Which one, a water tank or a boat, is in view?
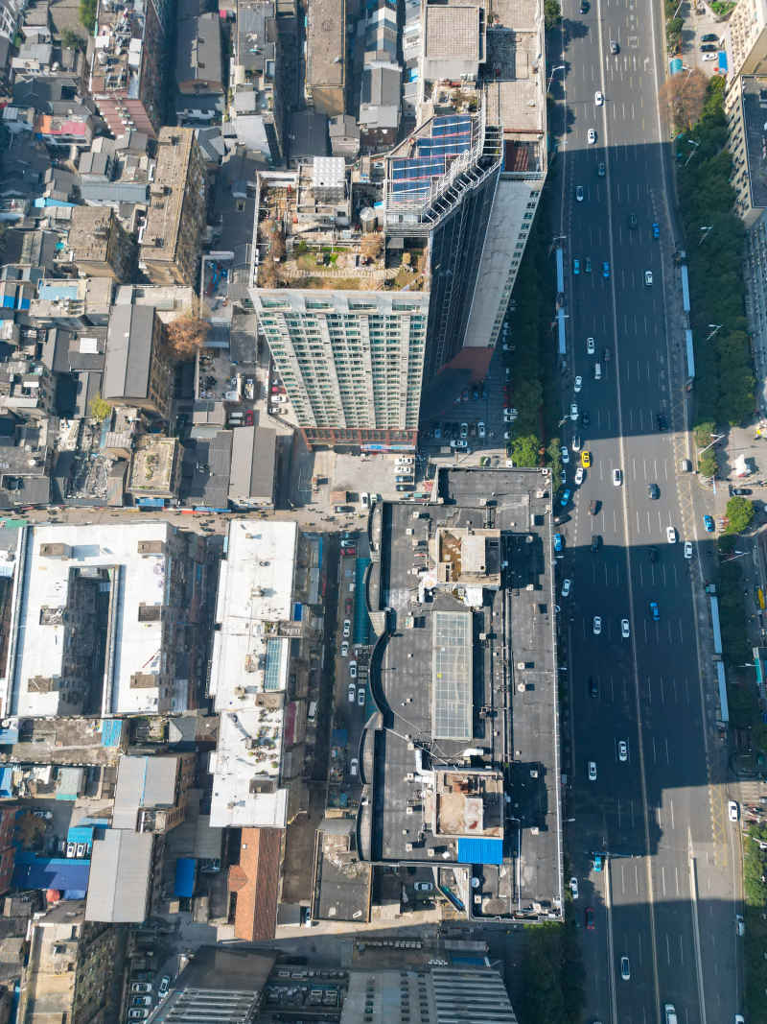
water tank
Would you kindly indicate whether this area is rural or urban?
urban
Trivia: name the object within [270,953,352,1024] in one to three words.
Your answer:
building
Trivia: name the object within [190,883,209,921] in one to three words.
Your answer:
shed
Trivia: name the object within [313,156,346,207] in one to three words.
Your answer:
water tank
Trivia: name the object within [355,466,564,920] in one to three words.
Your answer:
building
